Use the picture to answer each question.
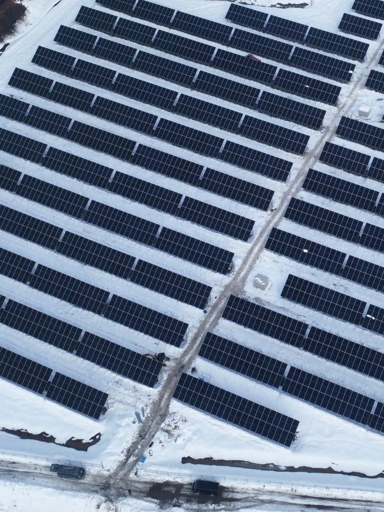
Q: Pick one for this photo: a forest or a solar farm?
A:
solar farm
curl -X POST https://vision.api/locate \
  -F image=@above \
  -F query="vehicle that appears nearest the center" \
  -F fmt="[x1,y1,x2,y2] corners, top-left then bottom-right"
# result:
[142,349,169,367]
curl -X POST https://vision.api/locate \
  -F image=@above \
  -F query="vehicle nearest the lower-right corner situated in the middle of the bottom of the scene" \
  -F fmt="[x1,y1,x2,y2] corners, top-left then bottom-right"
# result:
[190,480,219,495]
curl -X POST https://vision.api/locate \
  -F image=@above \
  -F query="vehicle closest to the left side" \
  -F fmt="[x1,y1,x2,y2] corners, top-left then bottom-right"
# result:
[47,462,84,479]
